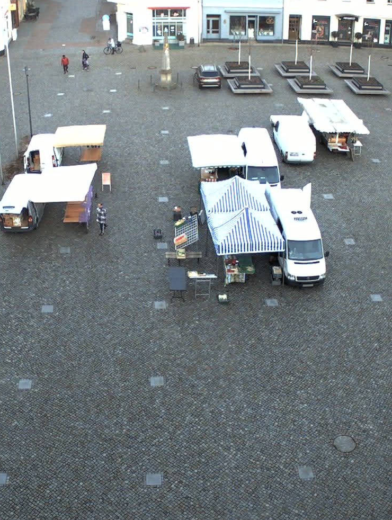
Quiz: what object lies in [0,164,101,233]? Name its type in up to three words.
van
